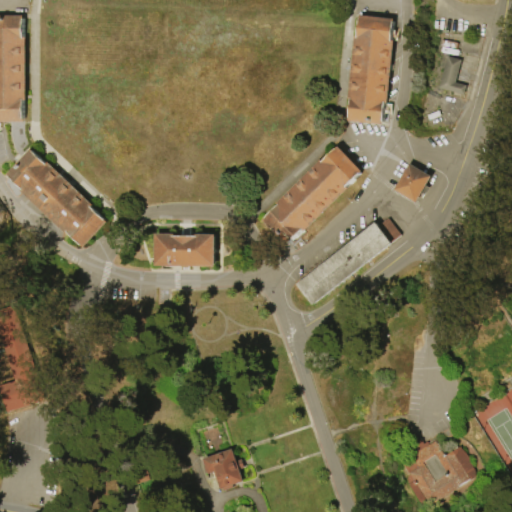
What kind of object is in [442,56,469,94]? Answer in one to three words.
house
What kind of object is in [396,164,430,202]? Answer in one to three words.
building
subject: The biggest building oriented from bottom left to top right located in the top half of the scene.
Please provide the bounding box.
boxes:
[264,146,364,241]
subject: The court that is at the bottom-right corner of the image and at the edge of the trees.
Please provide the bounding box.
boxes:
[476,390,512,468]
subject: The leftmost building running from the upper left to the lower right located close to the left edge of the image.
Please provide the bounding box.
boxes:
[8,148,109,247]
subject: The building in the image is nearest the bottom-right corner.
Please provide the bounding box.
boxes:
[406,436,476,504]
